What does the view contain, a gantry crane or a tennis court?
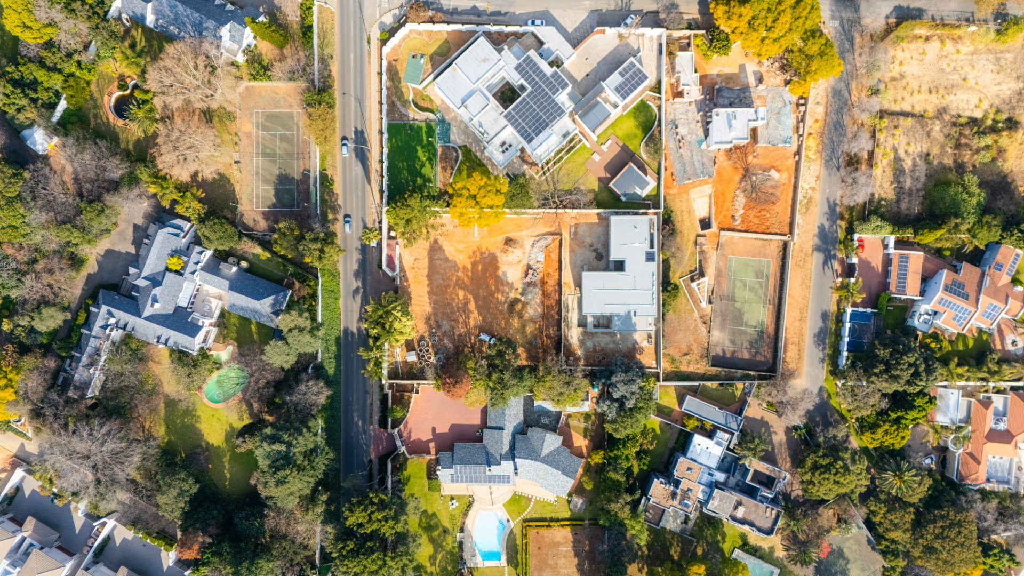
tennis court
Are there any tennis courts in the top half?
Yes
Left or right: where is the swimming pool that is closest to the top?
left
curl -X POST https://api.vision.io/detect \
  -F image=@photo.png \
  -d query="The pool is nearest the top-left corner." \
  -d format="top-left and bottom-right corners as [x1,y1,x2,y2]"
[108,79,144,123]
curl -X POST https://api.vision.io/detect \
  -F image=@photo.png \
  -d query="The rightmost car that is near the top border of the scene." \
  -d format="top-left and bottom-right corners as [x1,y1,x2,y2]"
[622,13,638,26]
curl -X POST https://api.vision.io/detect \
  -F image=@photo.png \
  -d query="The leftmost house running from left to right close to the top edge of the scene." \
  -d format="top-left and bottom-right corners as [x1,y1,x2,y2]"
[108,0,271,68]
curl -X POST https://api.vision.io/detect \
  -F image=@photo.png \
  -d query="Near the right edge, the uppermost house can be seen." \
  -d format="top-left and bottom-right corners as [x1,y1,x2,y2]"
[877,236,1024,333]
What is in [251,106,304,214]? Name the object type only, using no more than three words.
tennis court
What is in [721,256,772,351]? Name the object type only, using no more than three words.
tennis court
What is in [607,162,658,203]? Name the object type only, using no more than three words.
building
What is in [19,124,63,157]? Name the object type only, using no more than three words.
house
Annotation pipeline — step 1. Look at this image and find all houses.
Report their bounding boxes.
[705,107,766,152]
[58,215,293,402]
[877,236,1024,333]
[437,393,589,499]
[0,509,83,576]
[642,426,789,538]
[108,0,271,68]
[434,27,582,171]
[579,215,657,332]
[935,390,1024,488]
[19,124,63,157]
